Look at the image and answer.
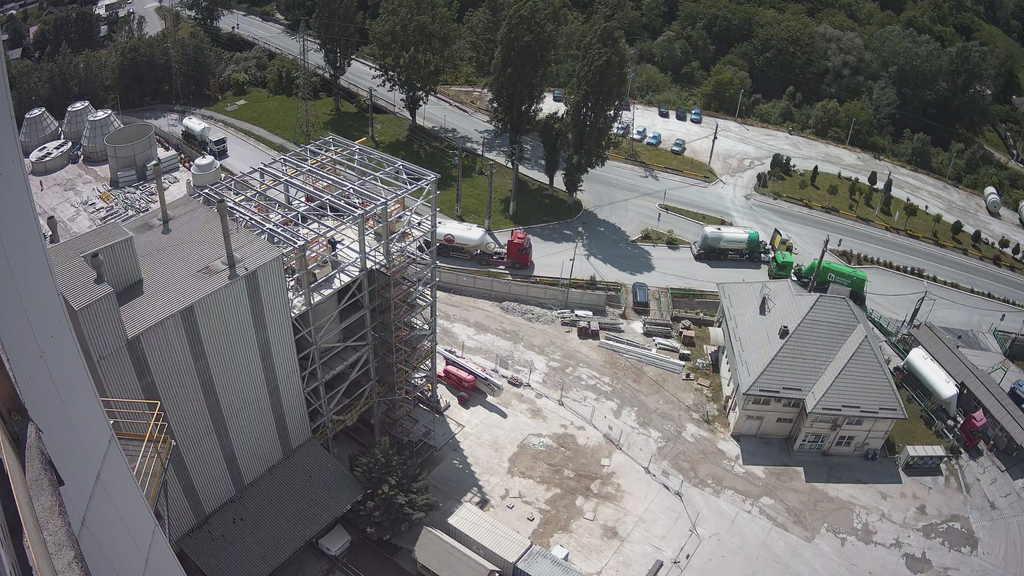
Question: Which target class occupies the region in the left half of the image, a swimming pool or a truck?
truck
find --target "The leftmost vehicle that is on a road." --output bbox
[182,122,220,157]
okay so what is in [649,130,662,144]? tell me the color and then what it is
blue vehicle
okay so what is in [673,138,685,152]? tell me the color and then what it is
gray vehicle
